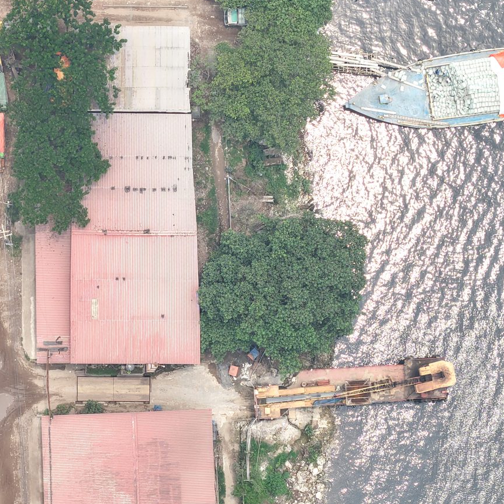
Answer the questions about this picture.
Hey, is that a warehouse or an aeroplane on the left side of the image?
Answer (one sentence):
What appears on the left side of the image is a warehouse.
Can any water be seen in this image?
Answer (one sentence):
Yes, there is water in the image.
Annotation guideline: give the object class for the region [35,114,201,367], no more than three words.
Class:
warehouse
